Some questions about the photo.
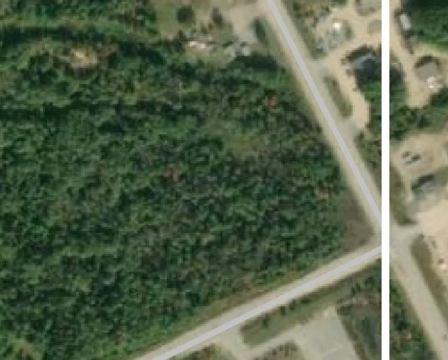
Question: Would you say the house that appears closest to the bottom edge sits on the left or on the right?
right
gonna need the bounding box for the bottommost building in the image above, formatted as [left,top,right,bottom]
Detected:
[407,175,444,202]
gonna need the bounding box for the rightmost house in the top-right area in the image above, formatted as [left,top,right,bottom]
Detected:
[413,57,442,81]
